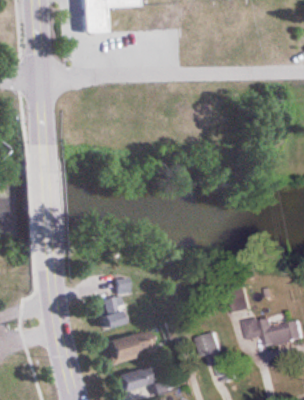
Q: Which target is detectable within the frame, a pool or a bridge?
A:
bridge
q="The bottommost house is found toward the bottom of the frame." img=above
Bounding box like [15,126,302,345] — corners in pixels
[121,368,176,399]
